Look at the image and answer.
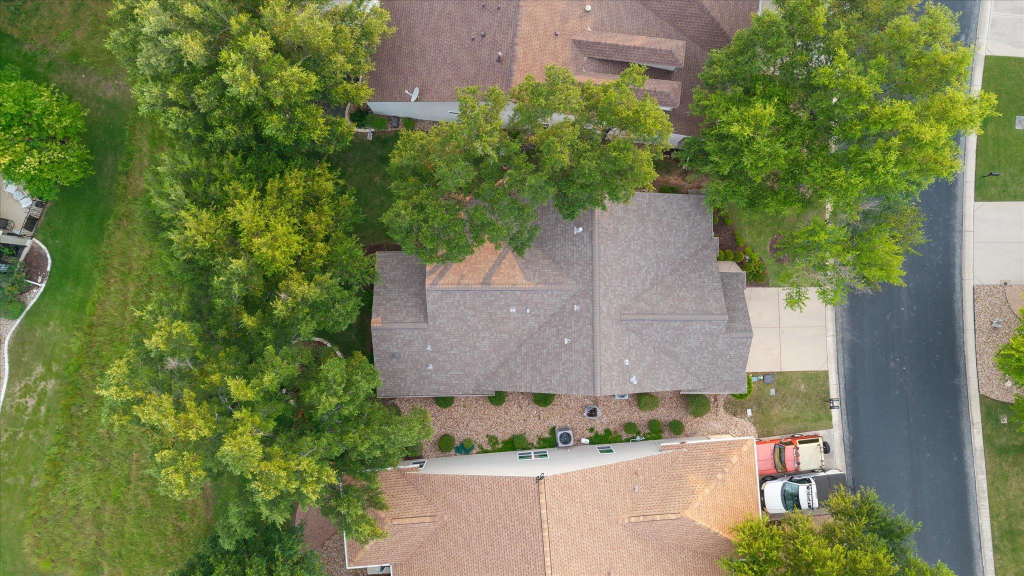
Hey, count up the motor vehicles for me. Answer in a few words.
2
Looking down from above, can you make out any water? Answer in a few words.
No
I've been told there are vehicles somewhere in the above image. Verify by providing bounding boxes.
[758,434,828,475]
[761,468,854,515]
